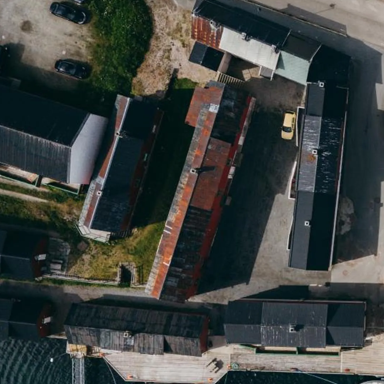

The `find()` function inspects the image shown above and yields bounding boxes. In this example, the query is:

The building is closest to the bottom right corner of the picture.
[225,299,368,346]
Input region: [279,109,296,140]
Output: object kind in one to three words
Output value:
car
